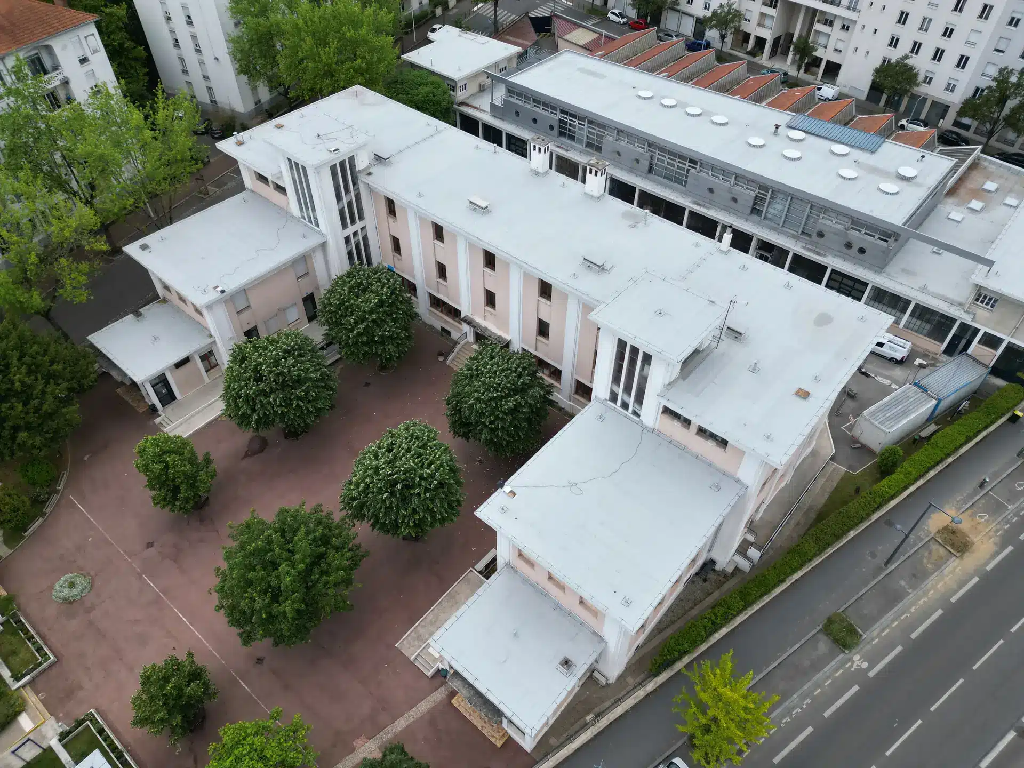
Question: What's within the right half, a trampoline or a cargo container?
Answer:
cargo container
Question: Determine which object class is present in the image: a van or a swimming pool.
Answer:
van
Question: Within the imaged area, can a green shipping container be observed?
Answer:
No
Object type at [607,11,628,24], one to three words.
vehicle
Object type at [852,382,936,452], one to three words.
shipping container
